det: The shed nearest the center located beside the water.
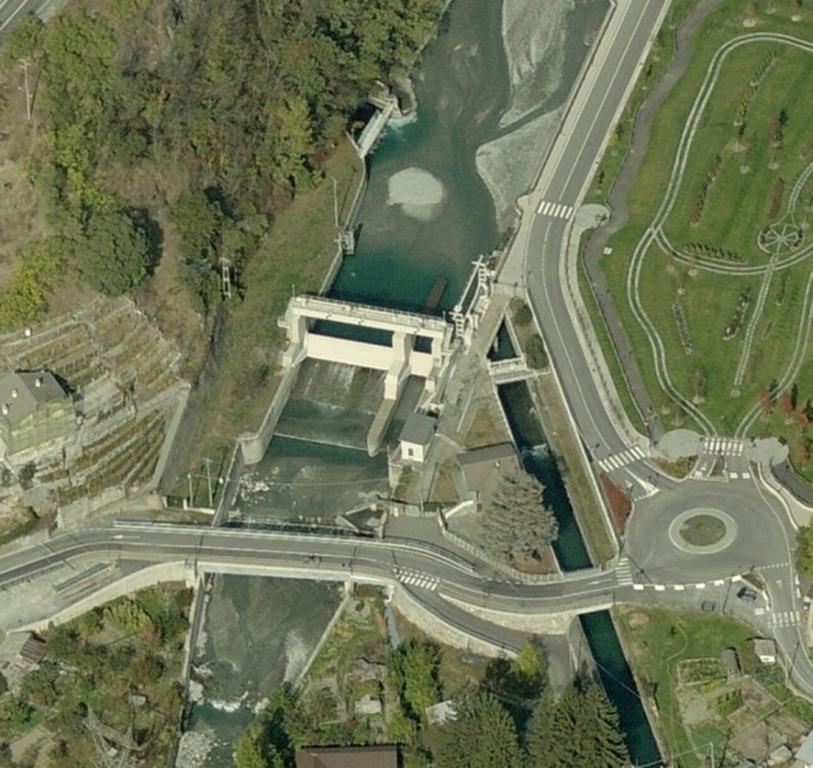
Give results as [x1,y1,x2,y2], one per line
[396,415,433,470]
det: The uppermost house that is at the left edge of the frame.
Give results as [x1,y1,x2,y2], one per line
[0,361,68,457]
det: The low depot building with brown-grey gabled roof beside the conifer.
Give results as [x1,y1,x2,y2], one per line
[456,450,530,508]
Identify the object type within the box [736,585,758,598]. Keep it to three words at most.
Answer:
vehicle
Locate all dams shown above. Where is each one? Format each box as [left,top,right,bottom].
[276,287,458,461]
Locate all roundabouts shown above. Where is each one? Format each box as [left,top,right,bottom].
[616,455,791,592]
